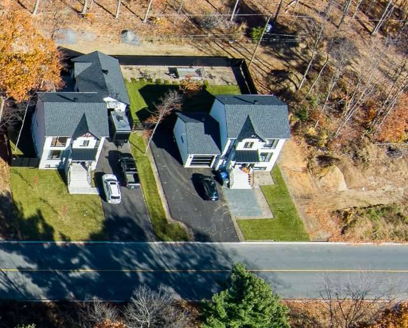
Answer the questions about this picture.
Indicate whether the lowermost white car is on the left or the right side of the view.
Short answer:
left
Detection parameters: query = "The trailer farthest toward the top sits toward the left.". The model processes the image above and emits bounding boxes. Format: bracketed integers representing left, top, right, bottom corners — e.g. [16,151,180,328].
[109,110,133,151]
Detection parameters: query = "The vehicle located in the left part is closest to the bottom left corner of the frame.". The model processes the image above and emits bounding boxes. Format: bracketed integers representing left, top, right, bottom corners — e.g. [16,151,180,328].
[101,174,123,204]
